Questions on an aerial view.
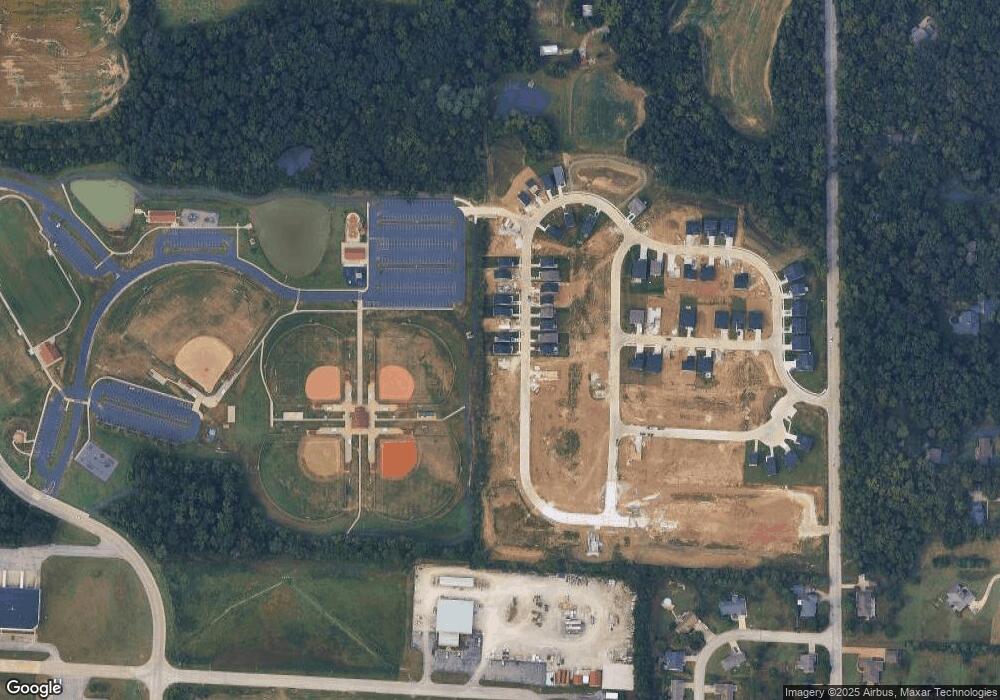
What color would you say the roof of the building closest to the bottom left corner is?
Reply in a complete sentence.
From above, the roof of the building closest to the bottom left corner looks blue.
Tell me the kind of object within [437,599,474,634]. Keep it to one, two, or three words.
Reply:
building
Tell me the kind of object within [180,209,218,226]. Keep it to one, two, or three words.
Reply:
playground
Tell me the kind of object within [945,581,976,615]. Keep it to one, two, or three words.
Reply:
house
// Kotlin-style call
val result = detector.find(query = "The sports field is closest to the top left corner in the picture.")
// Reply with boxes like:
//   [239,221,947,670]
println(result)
[0,200,76,344]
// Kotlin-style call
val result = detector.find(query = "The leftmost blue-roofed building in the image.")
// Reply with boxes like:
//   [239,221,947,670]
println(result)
[0,570,39,638]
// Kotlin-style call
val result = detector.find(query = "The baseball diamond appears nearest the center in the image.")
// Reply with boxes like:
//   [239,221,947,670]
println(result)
[371,316,462,409]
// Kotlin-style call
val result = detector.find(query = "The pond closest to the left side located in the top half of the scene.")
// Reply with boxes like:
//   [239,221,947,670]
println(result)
[71,179,136,228]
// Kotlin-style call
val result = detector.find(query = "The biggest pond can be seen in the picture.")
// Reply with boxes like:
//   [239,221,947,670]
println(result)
[250,198,331,277]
